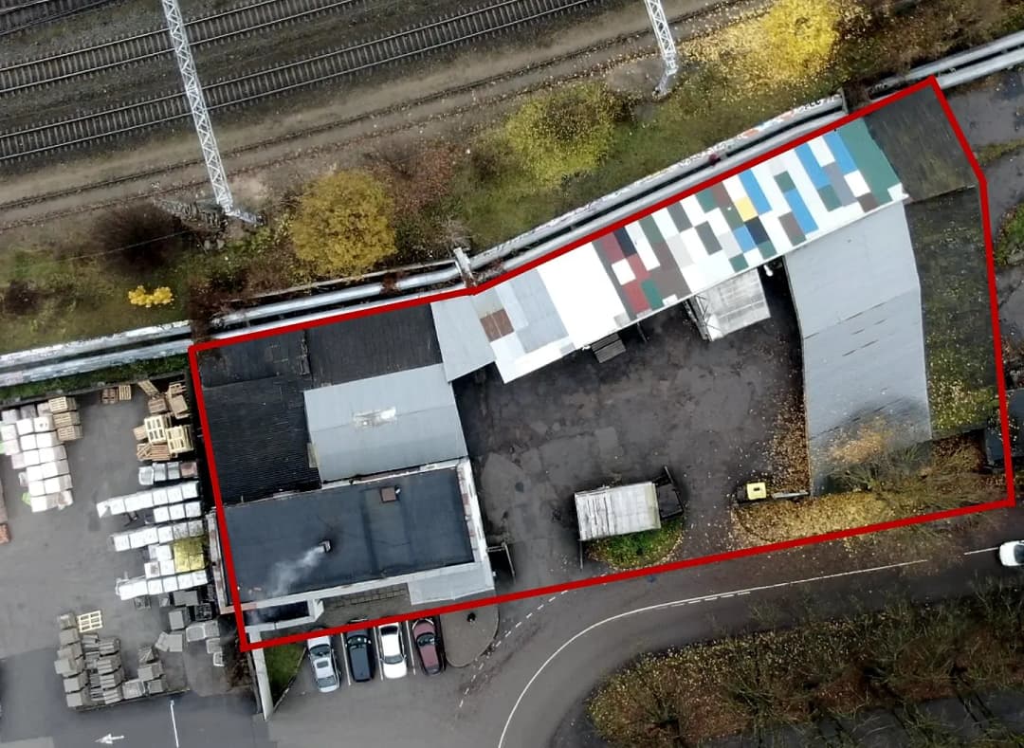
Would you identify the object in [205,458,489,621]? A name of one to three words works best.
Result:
building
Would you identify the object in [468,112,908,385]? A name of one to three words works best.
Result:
shed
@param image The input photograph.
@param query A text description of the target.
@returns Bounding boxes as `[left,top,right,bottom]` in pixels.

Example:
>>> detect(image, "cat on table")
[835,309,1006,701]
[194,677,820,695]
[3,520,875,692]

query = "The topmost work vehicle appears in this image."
[738,482,768,502]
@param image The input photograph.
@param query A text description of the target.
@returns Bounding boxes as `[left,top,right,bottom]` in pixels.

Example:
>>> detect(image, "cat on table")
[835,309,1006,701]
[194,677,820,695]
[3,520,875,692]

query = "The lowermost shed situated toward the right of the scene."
[574,482,684,541]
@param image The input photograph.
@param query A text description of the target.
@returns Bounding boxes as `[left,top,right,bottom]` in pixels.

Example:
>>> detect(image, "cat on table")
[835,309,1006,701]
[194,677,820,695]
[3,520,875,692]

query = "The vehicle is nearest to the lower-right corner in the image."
[996,538,1024,569]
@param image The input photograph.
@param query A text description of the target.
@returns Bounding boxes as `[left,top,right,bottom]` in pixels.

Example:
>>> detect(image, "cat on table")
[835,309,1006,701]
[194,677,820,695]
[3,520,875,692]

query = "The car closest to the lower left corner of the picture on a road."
[306,627,341,693]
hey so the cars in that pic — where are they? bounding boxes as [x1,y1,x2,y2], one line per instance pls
[410,616,445,680]
[996,538,1024,569]
[306,627,341,693]
[341,620,375,686]
[376,615,408,682]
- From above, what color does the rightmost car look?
white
